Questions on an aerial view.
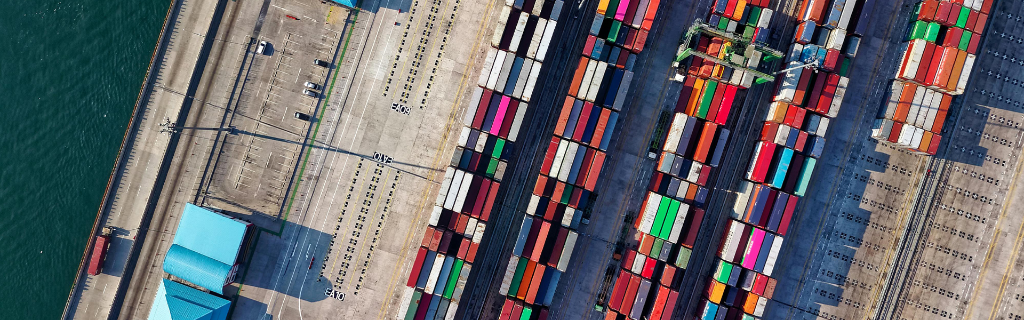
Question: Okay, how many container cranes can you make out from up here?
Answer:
1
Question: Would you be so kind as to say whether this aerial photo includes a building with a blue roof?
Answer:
Yes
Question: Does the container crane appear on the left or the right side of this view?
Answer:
right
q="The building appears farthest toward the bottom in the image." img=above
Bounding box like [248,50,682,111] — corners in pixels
[148,279,234,320]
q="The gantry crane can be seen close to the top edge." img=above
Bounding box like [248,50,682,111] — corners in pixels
[666,11,785,98]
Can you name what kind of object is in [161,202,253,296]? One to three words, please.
building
